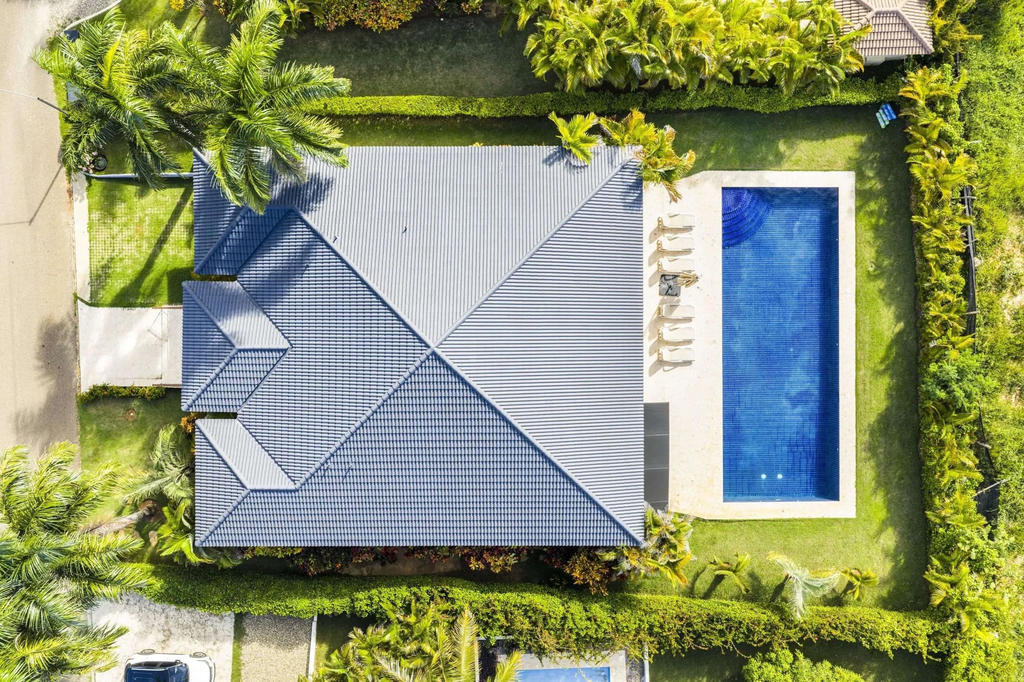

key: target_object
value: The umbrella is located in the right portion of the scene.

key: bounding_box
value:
[661,271,698,294]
